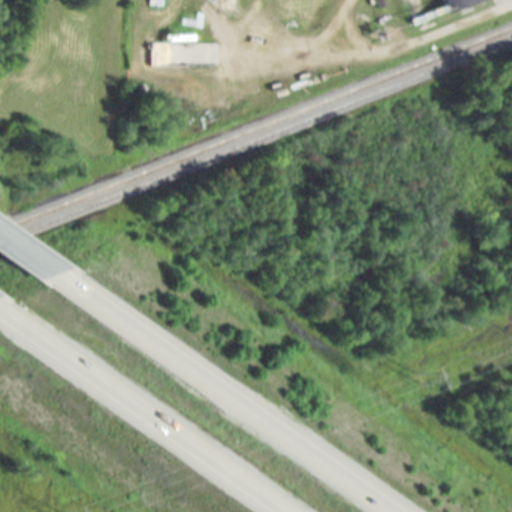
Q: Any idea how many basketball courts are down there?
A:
none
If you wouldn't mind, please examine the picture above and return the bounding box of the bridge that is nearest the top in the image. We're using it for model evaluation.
[0,212,84,285]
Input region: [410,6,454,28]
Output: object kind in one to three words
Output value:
house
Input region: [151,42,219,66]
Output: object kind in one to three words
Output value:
barn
